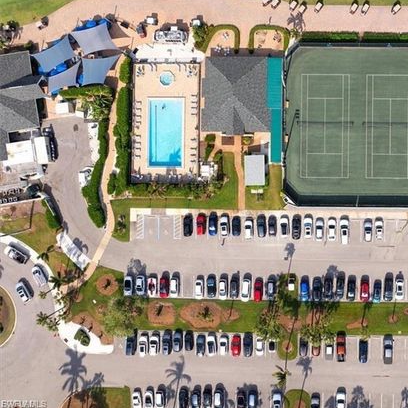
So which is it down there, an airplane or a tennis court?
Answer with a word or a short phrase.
tennis court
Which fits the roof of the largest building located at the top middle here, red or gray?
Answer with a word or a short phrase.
gray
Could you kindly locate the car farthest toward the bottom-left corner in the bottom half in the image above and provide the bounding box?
[15,281,32,302]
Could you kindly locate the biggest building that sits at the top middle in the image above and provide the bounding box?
[201,56,271,137]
